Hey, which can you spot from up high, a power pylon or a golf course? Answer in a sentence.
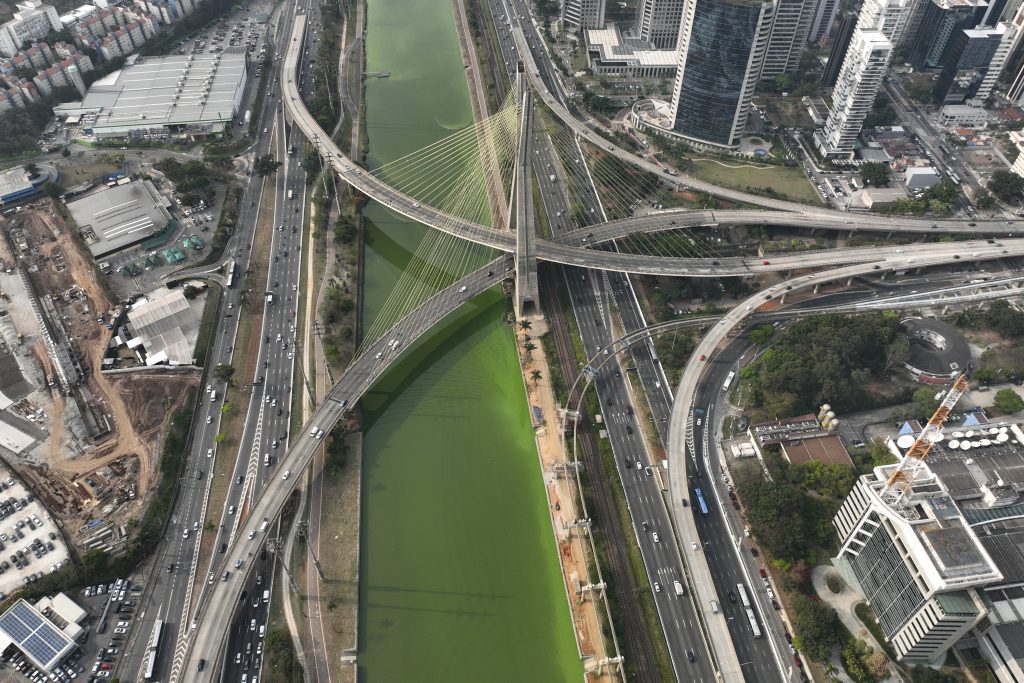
It is a power pylon that can be seen here.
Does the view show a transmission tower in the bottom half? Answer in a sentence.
Yes, I can see a transmission tower in the bottom half.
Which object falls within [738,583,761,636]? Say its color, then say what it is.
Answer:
white bus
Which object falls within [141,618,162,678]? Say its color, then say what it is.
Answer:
white bus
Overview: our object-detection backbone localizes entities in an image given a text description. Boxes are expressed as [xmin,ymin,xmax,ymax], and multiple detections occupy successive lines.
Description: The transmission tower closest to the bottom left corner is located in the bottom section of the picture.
[265,546,302,599]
